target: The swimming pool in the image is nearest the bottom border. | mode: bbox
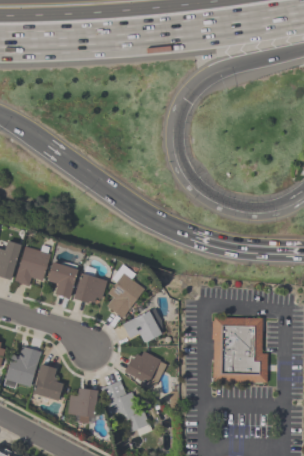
[94,415,108,438]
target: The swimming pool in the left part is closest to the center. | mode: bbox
[90,259,108,277]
